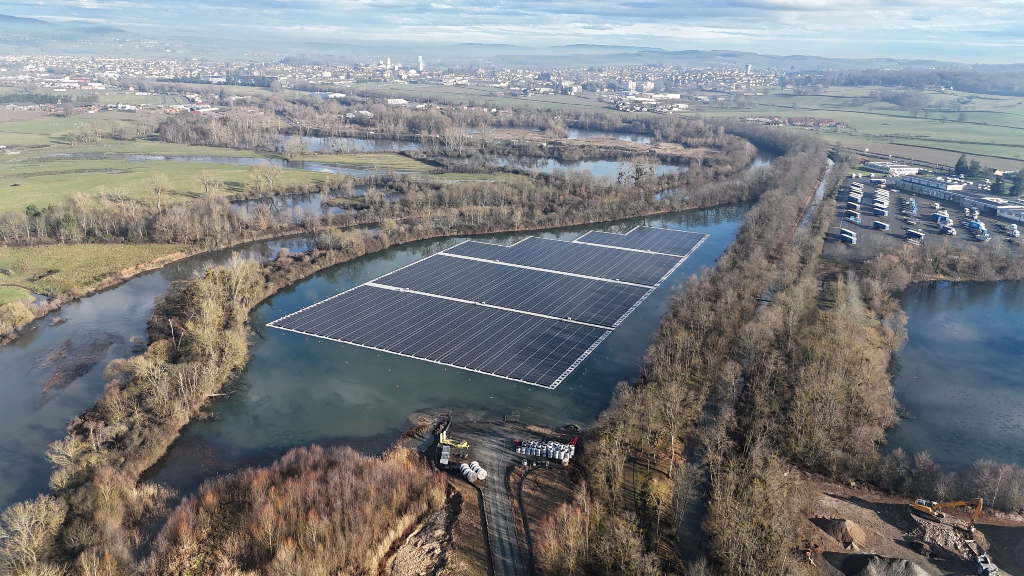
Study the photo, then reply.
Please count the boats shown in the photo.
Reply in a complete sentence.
The picture shows no boats.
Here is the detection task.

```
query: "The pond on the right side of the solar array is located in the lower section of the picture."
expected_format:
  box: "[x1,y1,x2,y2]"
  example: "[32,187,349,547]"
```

[882,279,1024,494]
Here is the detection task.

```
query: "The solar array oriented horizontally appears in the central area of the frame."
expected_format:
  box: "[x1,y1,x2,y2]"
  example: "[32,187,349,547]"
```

[267,226,710,389]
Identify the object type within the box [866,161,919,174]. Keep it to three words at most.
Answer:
building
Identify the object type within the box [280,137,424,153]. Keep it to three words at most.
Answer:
pond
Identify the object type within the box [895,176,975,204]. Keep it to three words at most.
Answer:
building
